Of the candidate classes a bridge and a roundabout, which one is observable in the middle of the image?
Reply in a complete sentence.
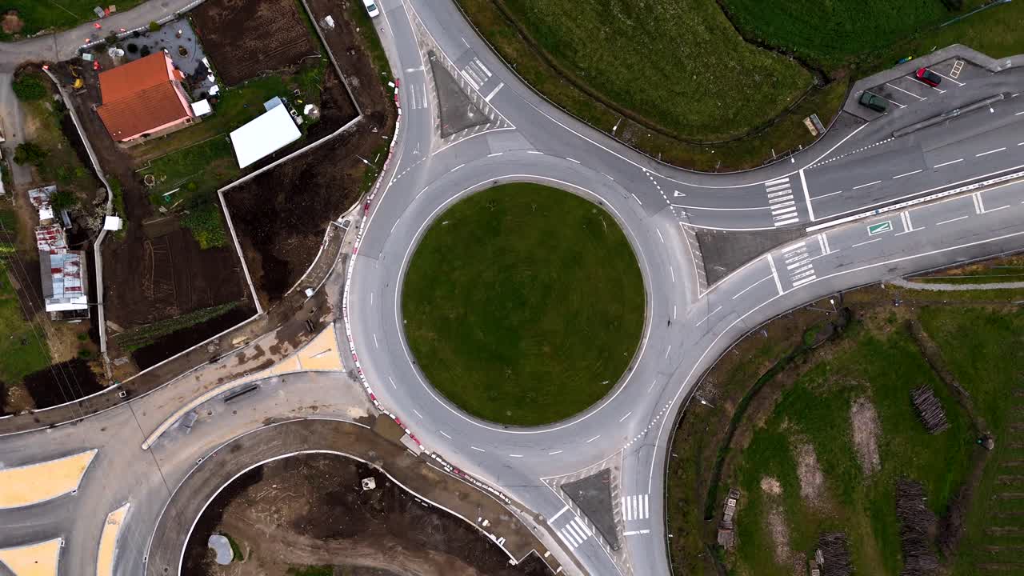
The feature located in the middle of the image is a roundabout.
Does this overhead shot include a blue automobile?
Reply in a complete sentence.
No, I can see no blue automobile in this picture.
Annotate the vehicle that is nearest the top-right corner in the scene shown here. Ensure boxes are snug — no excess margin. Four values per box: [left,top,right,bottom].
[914,68,942,87]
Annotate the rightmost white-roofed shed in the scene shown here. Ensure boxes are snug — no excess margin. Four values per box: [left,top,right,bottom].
[231,96,303,169]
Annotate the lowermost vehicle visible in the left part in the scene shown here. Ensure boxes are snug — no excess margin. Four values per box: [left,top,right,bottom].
[68,65,87,92]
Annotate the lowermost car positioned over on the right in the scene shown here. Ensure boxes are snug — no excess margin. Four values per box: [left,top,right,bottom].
[857,91,891,112]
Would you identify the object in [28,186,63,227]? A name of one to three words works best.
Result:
shed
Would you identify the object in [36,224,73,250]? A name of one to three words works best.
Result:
shed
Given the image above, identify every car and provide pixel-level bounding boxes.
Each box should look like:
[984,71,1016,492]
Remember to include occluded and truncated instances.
[363,0,380,19]
[914,68,942,87]
[857,91,891,112]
